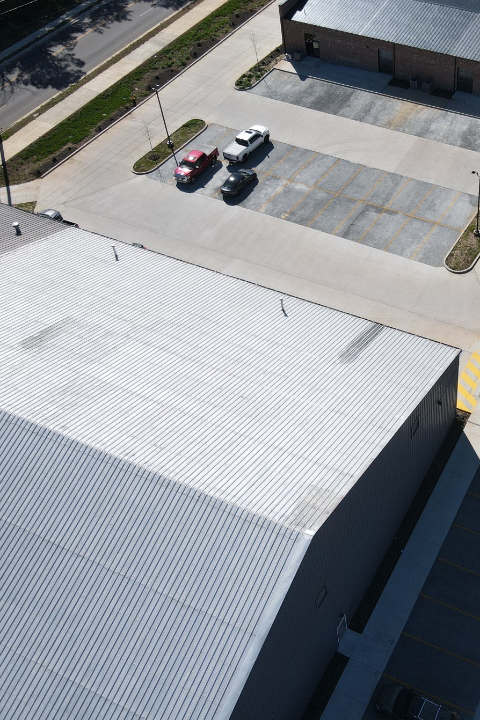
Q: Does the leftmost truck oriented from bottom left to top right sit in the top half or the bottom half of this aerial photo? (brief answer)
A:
top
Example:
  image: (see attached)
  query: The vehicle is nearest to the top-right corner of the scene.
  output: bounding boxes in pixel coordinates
[223,126,271,161]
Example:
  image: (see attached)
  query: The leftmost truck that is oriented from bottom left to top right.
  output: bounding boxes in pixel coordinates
[170,145,220,185]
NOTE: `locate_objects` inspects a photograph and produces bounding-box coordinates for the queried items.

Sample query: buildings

[276,0,480,94]
[0,229,463,720]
